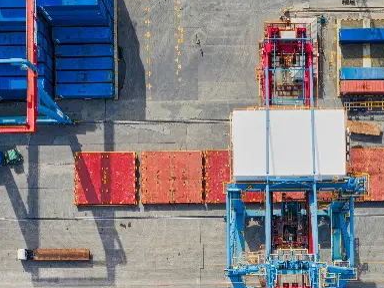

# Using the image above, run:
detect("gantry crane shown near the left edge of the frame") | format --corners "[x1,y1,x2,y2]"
[0,0,70,137]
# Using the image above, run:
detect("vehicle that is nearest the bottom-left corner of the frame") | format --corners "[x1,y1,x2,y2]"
[16,247,91,261]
